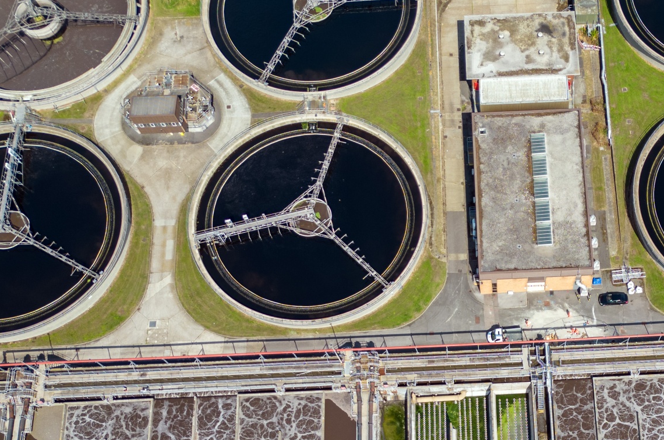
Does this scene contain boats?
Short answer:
No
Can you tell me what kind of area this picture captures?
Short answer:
industrial area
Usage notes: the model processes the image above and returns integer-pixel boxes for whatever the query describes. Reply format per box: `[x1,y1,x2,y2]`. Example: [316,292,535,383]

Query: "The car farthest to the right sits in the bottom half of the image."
[599,291,629,306]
